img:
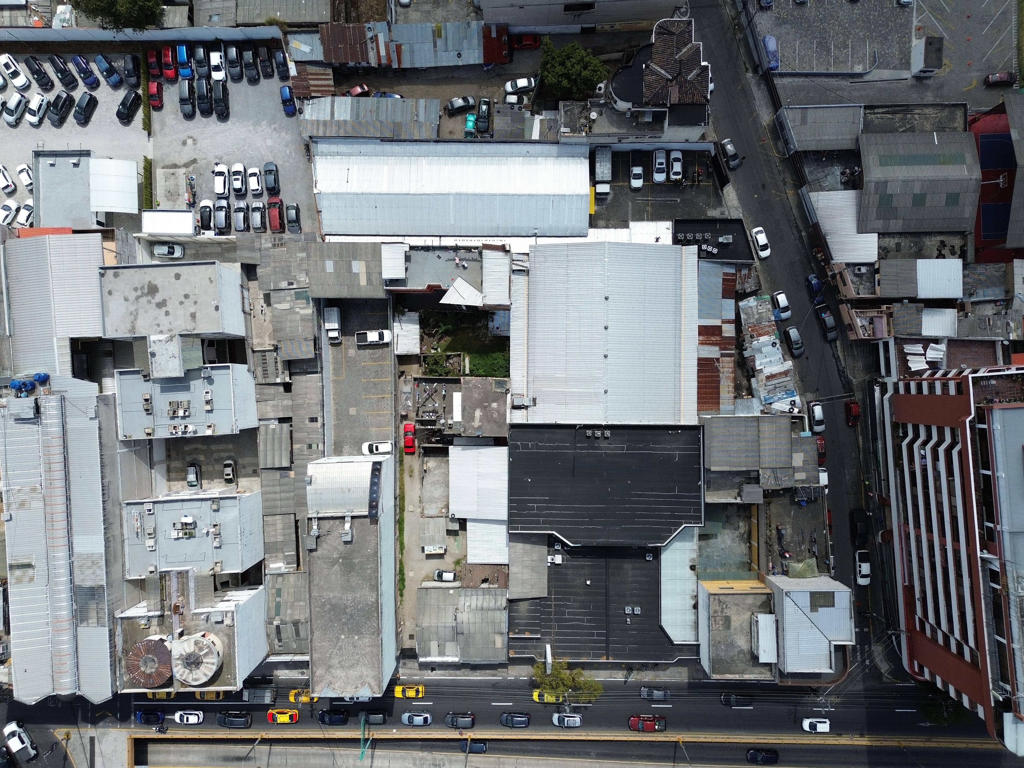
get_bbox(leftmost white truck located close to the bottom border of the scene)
[7,724,34,761]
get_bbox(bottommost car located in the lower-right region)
[747,748,779,764]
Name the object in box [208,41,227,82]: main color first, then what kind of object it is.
white vehicle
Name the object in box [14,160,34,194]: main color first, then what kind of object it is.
white car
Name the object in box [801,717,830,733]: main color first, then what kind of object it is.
white car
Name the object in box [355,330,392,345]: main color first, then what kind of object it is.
white vehicle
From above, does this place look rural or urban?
urban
